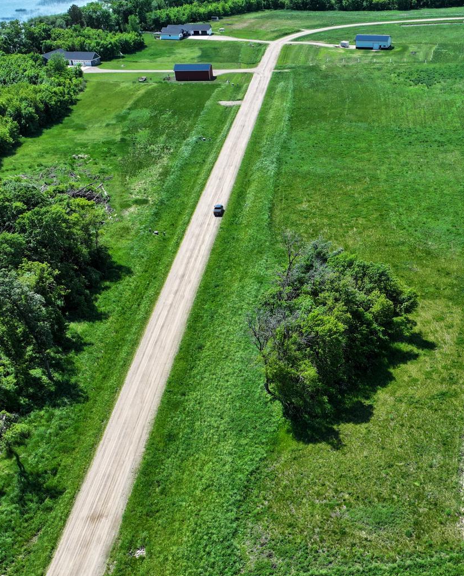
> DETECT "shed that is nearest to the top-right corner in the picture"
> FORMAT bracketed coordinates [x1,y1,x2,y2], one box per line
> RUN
[355,32,390,50]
